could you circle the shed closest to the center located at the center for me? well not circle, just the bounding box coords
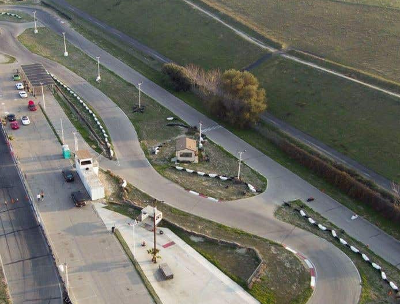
[173,138,199,164]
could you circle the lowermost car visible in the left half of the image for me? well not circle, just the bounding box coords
[70,189,86,208]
